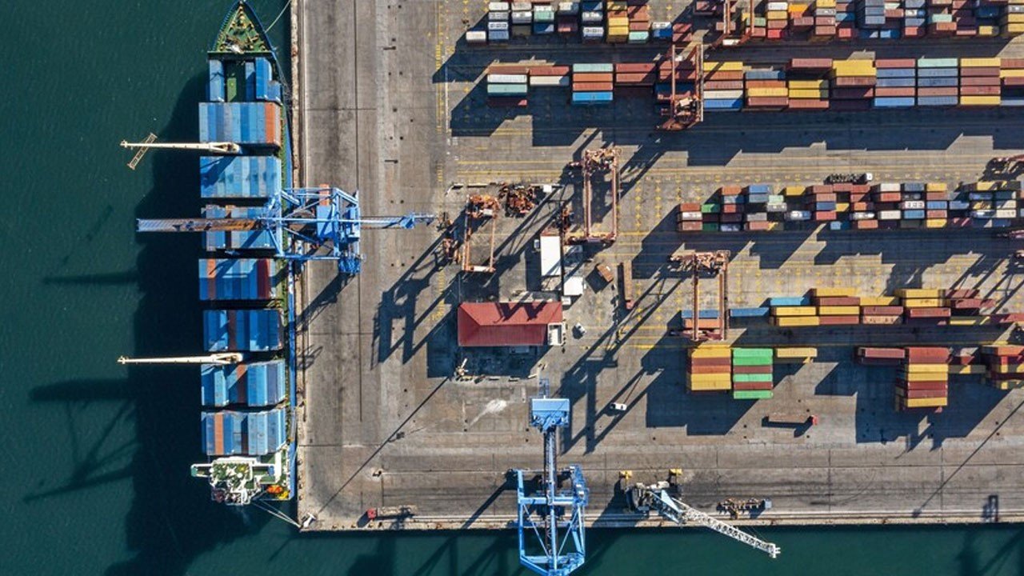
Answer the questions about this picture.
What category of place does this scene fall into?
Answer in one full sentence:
The area seen from above is a port.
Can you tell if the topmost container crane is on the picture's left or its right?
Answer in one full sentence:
It is on the right.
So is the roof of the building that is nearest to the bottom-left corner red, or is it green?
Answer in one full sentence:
The roof of the building that is nearest to the bottom-left corner looks red in the image.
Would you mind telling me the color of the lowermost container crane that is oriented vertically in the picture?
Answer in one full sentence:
The lowermost container crane that is oriented vertically looks blue in the image.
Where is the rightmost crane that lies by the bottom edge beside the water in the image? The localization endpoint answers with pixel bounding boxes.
[619,469,782,558]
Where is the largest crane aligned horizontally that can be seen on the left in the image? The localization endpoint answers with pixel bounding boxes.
[133,186,449,281]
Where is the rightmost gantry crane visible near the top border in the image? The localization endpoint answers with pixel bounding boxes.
[691,0,758,61]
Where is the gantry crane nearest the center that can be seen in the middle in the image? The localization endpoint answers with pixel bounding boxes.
[453,194,505,274]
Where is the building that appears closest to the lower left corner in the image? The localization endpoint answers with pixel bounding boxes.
[457,301,563,354]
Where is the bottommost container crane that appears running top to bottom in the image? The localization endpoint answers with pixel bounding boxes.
[504,372,593,576]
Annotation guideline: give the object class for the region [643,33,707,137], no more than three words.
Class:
container crane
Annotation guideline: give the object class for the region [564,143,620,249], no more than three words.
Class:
container crane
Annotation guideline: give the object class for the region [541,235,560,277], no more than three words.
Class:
shed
